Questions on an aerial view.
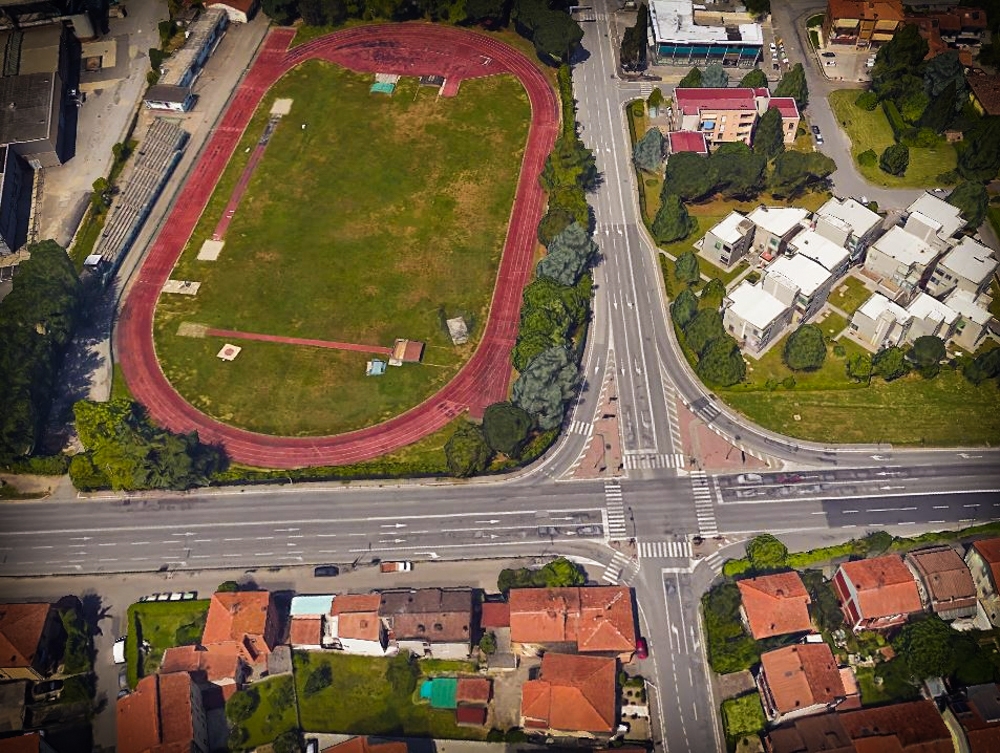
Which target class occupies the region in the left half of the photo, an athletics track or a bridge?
athletics track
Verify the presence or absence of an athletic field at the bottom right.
No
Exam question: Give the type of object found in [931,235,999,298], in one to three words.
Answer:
house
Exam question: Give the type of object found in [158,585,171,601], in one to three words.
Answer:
vehicle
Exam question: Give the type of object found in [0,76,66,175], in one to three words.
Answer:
building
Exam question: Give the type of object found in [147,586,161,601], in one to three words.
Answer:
vehicle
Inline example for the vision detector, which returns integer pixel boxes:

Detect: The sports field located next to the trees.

[153,59,530,437]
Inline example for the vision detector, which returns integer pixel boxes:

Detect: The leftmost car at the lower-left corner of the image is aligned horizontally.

[34,683,62,695]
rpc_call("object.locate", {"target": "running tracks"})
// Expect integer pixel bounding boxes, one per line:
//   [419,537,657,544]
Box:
[116,23,561,469]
